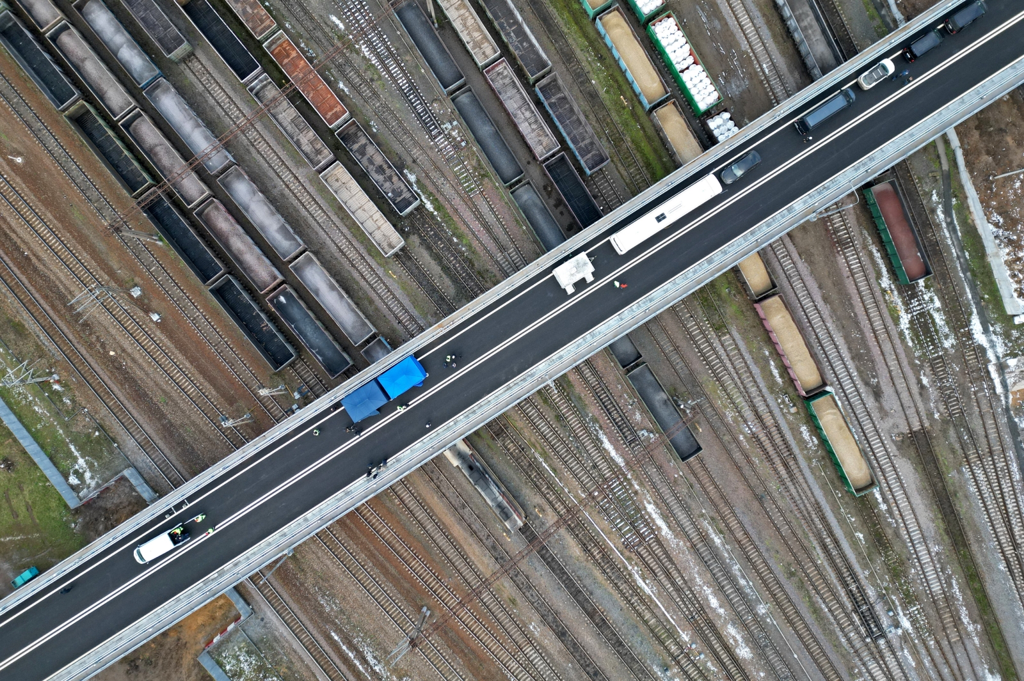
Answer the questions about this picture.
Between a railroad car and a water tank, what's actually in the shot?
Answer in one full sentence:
Visible in the photo is a railroad car.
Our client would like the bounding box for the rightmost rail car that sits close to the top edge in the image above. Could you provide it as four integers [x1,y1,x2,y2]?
[767,0,842,84]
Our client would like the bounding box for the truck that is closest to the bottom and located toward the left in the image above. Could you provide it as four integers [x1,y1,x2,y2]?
[11,564,43,589]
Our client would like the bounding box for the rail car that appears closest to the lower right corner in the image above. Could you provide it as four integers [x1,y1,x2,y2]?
[802,390,879,497]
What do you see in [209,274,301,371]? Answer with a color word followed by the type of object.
black rail car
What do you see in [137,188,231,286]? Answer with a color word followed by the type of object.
black rail car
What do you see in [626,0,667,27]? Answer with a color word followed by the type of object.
green rail car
